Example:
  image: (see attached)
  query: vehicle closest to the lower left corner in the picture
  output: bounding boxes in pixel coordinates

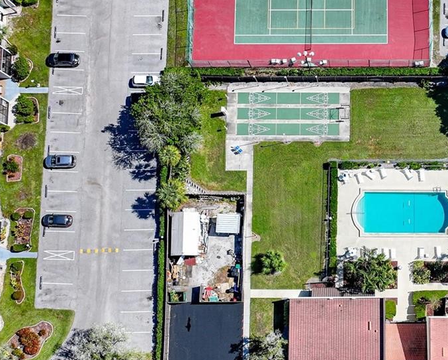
[39,213,72,228]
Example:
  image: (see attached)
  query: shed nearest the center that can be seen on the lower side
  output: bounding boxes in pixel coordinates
[215,213,240,233]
